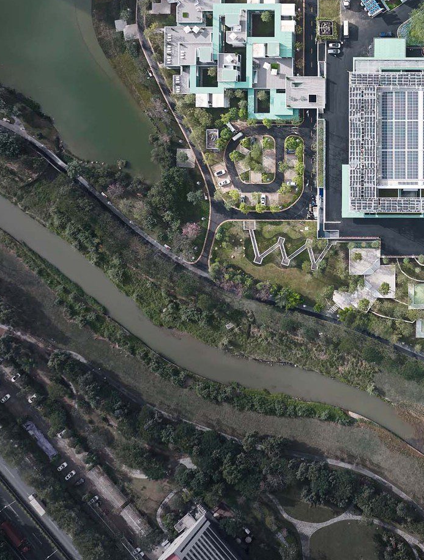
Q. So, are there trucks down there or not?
Yes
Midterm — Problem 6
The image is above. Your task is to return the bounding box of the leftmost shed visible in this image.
[86,463,128,505]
